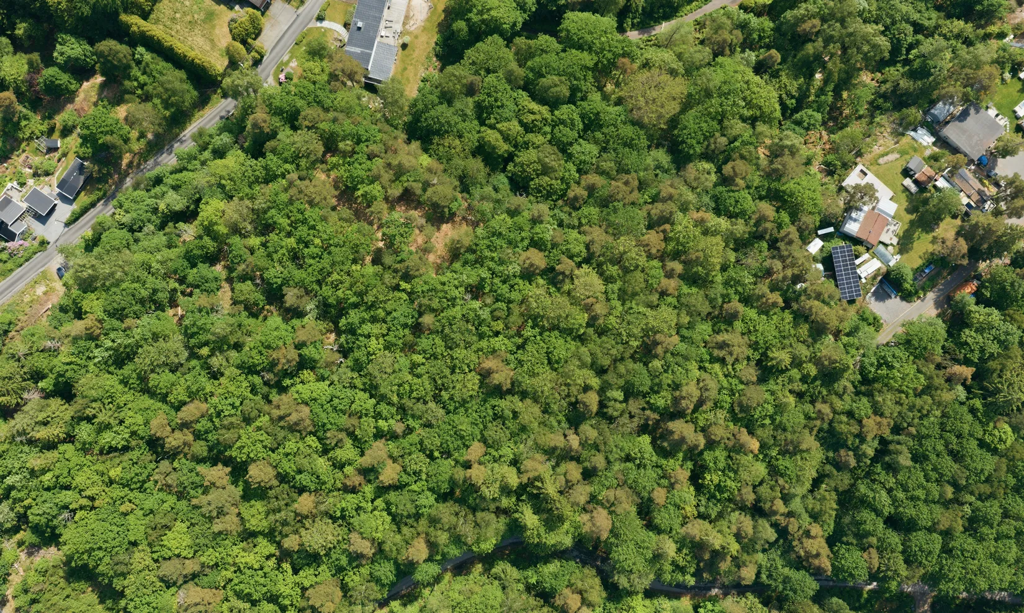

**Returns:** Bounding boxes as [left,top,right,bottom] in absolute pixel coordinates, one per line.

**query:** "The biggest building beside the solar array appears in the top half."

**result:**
[841,163,897,250]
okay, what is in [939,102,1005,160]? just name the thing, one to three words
house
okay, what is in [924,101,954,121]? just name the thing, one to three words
shed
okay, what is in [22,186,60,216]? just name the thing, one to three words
building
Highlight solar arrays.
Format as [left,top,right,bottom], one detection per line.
[832,244,862,300]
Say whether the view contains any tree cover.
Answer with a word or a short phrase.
Yes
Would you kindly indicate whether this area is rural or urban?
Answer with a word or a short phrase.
rural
